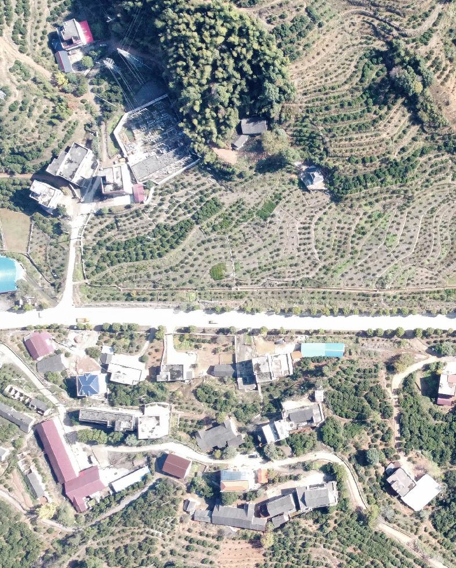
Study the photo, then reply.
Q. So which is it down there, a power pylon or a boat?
power pylon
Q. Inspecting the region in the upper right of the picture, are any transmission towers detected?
No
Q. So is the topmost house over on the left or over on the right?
left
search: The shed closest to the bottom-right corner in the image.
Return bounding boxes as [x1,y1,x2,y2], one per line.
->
[401,473,440,510]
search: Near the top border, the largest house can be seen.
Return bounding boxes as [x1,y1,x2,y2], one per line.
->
[60,20,99,51]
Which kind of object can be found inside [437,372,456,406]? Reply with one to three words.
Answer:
house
